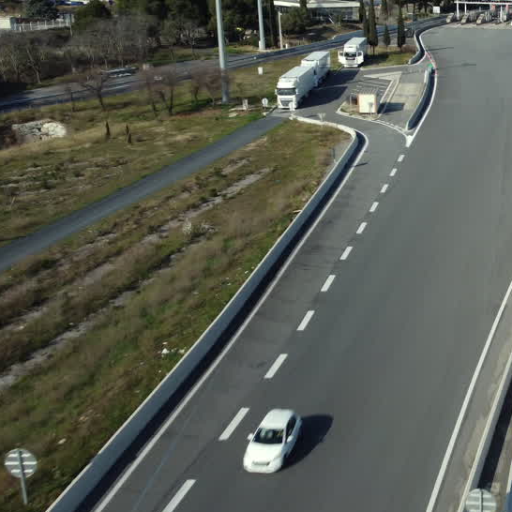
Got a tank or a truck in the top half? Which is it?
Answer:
truck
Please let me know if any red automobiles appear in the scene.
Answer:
No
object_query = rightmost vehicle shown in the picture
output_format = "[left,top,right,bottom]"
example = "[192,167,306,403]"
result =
[339,40,364,66]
